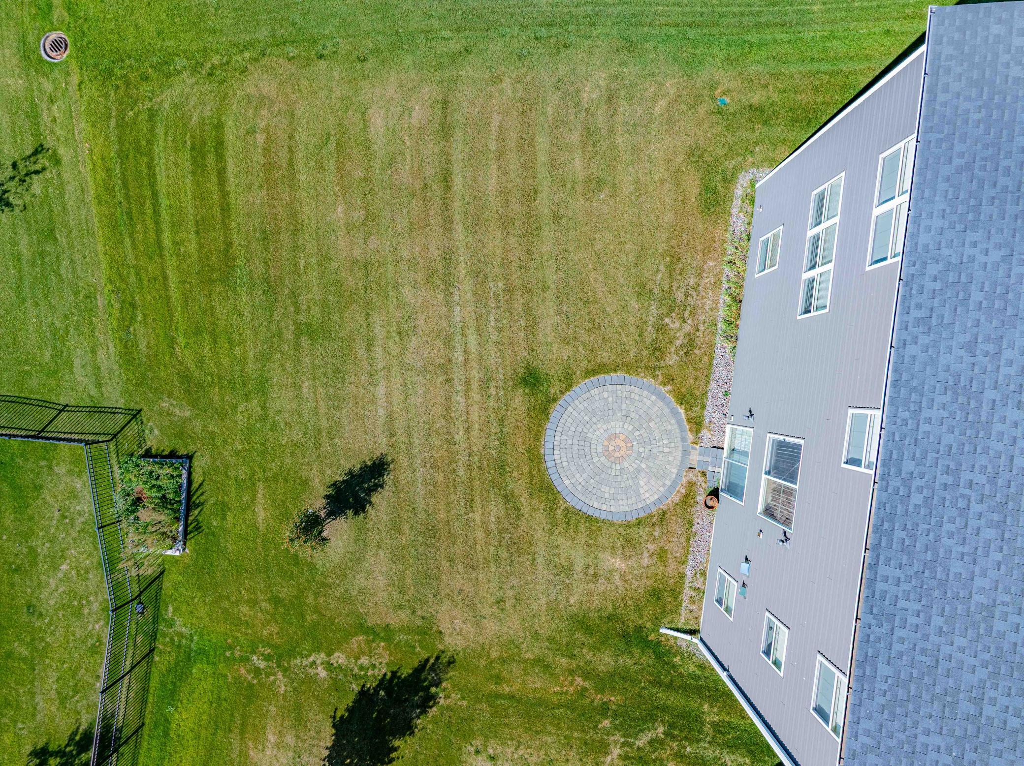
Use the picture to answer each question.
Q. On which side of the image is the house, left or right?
right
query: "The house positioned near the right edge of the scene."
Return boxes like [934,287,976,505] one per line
[662,1,1024,766]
